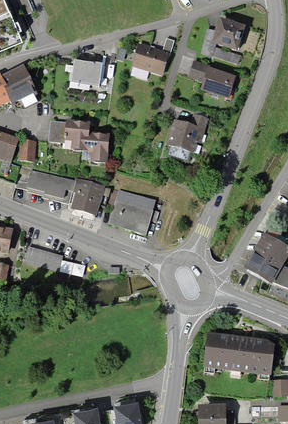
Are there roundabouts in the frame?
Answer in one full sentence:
Yes, a roundabout is visible in the scene.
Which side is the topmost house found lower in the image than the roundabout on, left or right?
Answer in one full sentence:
The topmost house found lower in the image than the roundabout sits on the right side.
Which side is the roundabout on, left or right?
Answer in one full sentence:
You can find the roundabout on the right side of the picture.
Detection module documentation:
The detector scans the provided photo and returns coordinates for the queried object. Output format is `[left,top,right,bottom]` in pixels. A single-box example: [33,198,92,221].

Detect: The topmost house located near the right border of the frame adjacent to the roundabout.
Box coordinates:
[246,232,288,288]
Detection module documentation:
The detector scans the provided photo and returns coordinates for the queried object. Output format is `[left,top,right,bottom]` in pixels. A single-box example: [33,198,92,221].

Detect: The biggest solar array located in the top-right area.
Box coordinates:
[202,79,234,98]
